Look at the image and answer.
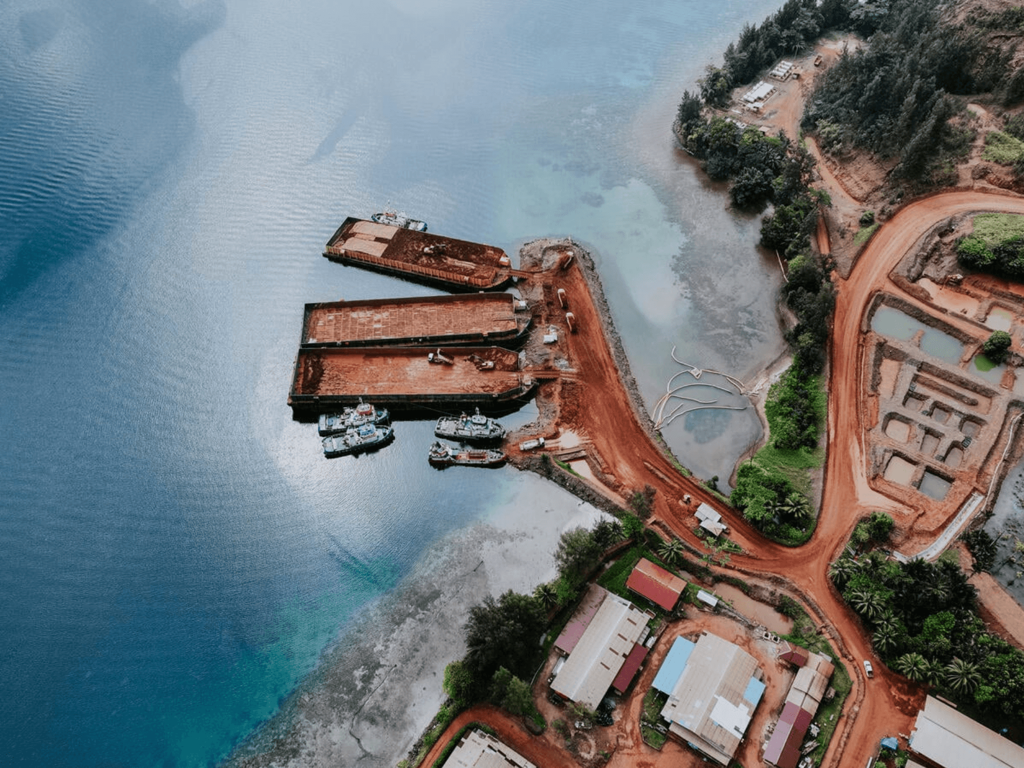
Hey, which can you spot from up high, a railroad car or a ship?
ship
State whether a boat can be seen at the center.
Yes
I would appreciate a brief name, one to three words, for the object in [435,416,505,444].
boat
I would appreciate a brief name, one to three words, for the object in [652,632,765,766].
building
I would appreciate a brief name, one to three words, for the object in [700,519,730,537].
shed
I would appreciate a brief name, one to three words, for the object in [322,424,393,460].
boat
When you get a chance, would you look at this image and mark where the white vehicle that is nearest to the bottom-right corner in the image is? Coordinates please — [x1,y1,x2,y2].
[862,660,874,678]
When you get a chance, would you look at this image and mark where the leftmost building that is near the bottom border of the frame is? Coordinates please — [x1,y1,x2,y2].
[444,730,536,768]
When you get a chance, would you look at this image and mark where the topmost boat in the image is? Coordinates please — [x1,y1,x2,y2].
[372,203,431,233]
